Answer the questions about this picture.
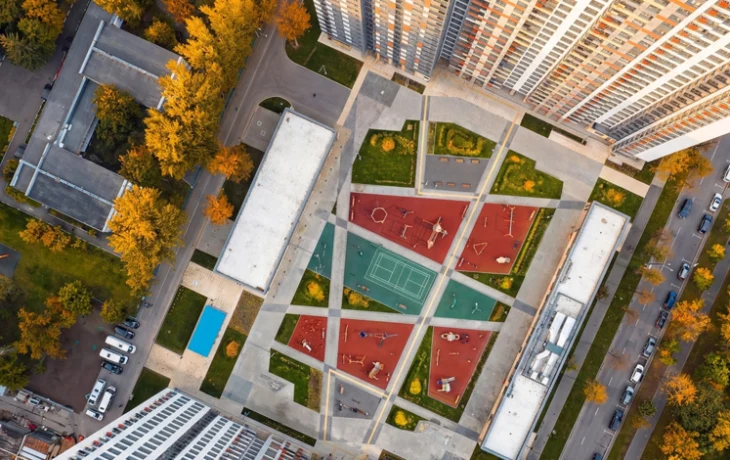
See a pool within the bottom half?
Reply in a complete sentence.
Yes, the scene does show a pool within the bottom half.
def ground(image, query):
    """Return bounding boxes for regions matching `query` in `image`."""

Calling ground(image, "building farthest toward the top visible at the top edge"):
[313,0,461,80]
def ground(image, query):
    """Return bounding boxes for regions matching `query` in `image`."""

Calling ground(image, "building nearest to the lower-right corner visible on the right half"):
[476,200,631,460]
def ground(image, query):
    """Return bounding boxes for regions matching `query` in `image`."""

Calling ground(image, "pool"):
[186,305,228,359]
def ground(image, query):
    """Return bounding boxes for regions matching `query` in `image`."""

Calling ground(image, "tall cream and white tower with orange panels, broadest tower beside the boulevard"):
[441,0,730,162]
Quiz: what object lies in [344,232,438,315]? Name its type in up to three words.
sports court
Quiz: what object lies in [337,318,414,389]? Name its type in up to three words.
playground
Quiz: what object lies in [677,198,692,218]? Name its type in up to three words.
car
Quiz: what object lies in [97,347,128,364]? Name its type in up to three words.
vehicle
